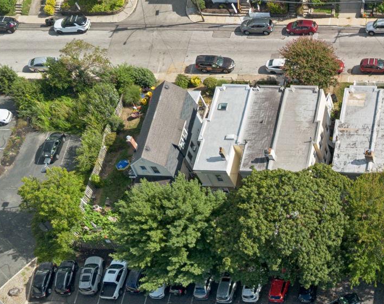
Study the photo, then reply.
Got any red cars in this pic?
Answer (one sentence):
Yes, the frame does contain a red car.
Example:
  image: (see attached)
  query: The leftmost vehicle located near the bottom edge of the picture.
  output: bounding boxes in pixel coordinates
[32,261,58,299]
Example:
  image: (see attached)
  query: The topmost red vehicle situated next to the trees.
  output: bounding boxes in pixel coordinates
[286,20,318,37]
